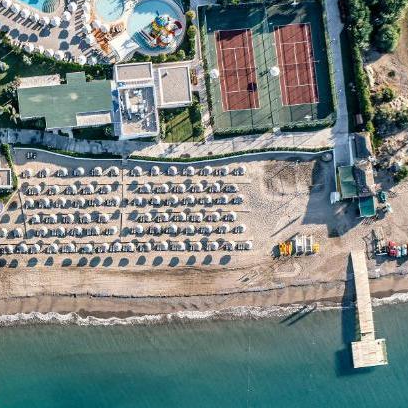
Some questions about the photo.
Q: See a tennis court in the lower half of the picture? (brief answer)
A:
No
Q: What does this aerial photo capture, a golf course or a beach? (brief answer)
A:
beach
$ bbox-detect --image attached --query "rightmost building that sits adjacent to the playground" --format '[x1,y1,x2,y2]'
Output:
[156,66,193,108]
